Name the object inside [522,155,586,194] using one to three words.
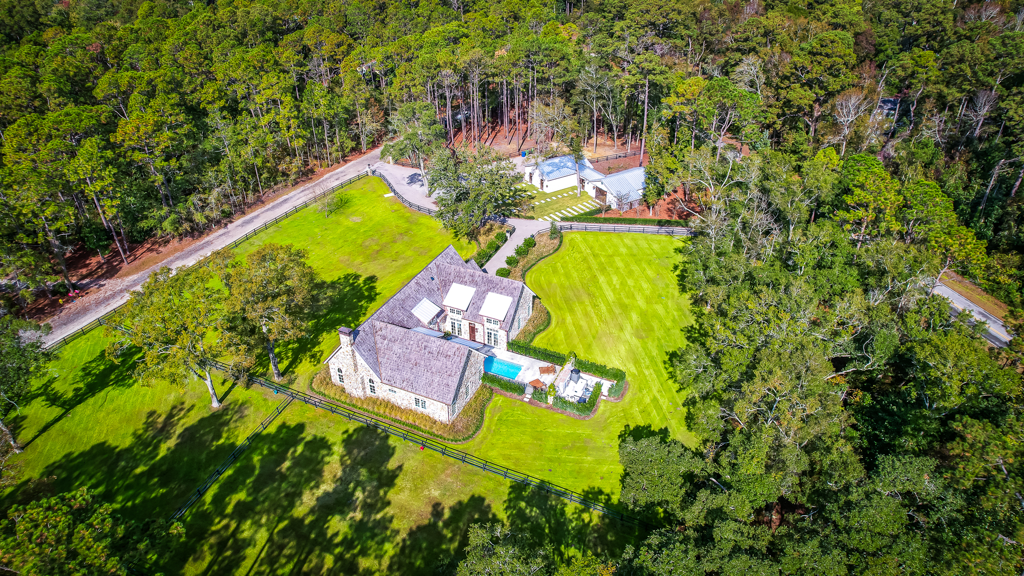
building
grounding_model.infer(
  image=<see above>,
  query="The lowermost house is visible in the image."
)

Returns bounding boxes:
[321,245,537,421]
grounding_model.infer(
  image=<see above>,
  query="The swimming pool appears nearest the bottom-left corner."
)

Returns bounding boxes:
[477,352,525,380]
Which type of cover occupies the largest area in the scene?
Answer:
trees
